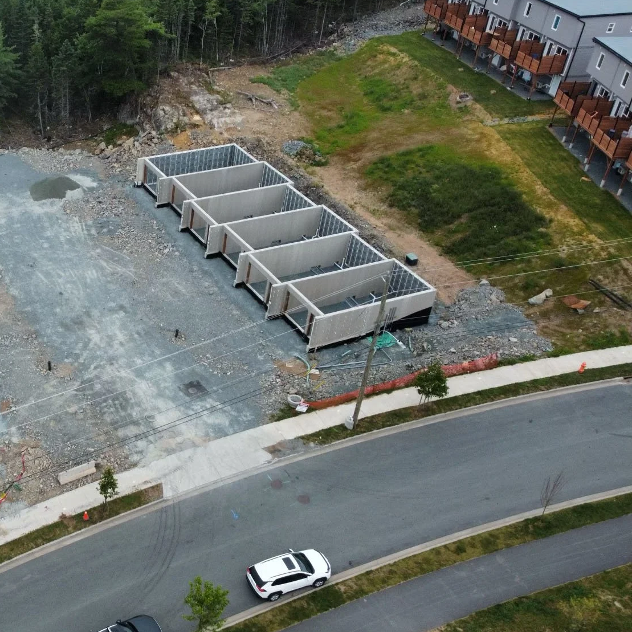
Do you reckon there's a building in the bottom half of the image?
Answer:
No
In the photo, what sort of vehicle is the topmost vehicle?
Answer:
car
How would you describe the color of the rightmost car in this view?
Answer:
white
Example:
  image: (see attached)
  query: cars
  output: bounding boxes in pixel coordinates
[102,618,168,632]
[250,552,333,602]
